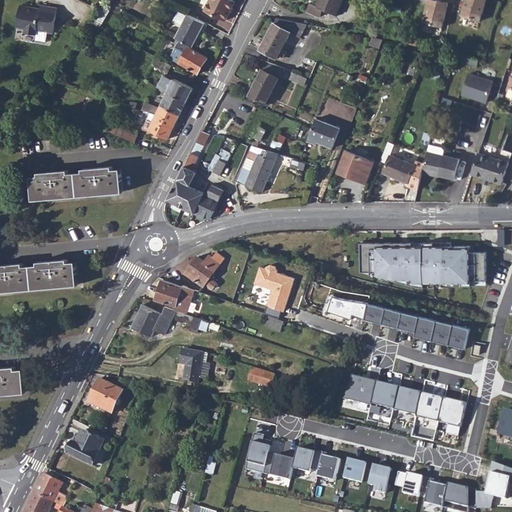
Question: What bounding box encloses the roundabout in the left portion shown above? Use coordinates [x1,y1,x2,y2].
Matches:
[126,219,179,268]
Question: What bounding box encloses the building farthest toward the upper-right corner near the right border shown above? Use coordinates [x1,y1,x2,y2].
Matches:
[459,0,488,30]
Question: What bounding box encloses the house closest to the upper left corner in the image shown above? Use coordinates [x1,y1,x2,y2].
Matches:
[15,6,57,46]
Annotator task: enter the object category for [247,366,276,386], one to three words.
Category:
barn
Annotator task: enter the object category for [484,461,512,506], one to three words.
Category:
house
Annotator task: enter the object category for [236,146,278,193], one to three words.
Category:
house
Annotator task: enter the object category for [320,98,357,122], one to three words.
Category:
building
